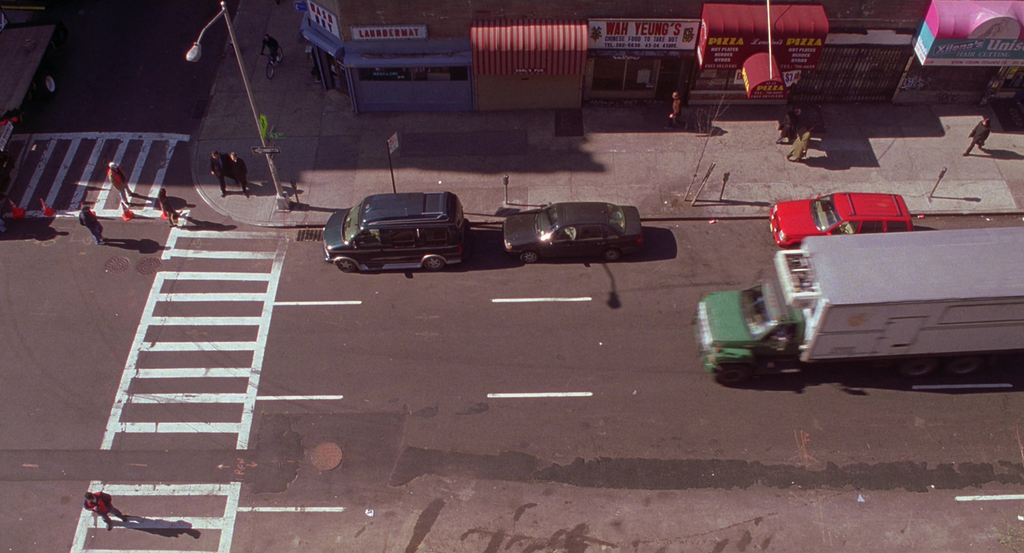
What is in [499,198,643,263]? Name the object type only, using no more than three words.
car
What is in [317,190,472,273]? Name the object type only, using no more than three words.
van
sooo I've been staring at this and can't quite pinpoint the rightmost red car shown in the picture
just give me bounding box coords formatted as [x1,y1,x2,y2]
[764,182,918,254]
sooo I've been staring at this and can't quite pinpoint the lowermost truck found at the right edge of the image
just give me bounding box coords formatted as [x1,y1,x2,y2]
[696,225,1024,382]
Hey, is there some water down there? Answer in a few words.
No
